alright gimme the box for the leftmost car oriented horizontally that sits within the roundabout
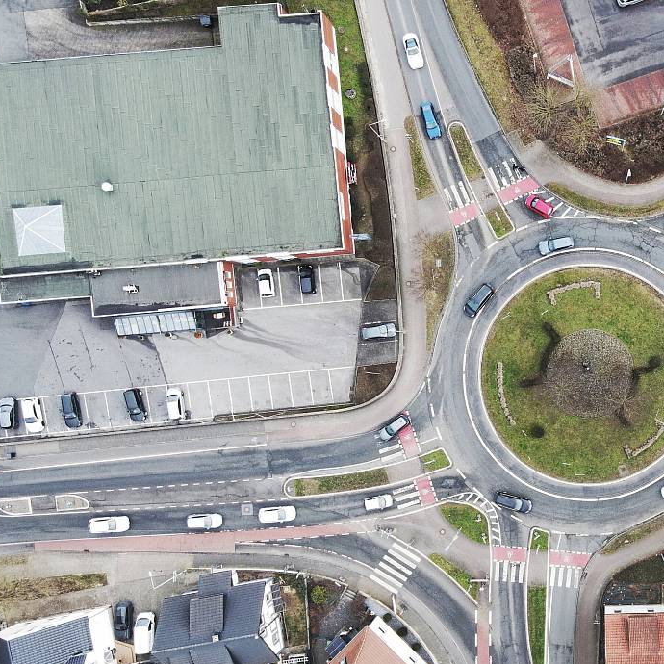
[495,491,531,512]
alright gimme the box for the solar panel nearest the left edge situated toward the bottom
[274,577,290,612]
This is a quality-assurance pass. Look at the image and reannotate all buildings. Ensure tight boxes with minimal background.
[0,1,370,336]
[330,617,424,664]
[606,585,664,664]
[149,553,318,664]
[0,603,122,664]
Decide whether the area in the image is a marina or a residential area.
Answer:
residential area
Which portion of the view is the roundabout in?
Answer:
right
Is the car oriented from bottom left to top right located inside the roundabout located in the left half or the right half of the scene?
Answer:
right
